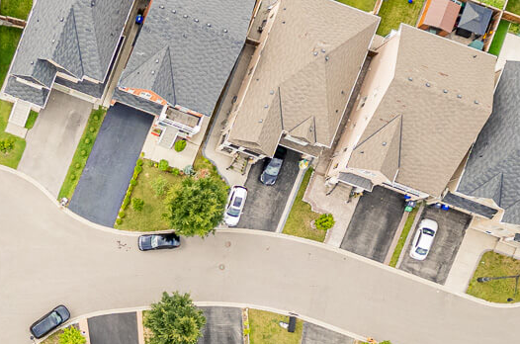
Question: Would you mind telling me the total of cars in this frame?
5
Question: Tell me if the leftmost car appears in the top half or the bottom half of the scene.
bottom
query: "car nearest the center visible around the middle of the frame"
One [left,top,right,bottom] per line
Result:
[261,149,287,186]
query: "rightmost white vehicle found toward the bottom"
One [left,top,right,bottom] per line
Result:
[409,217,437,261]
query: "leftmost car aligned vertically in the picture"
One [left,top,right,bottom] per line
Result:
[224,184,248,227]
